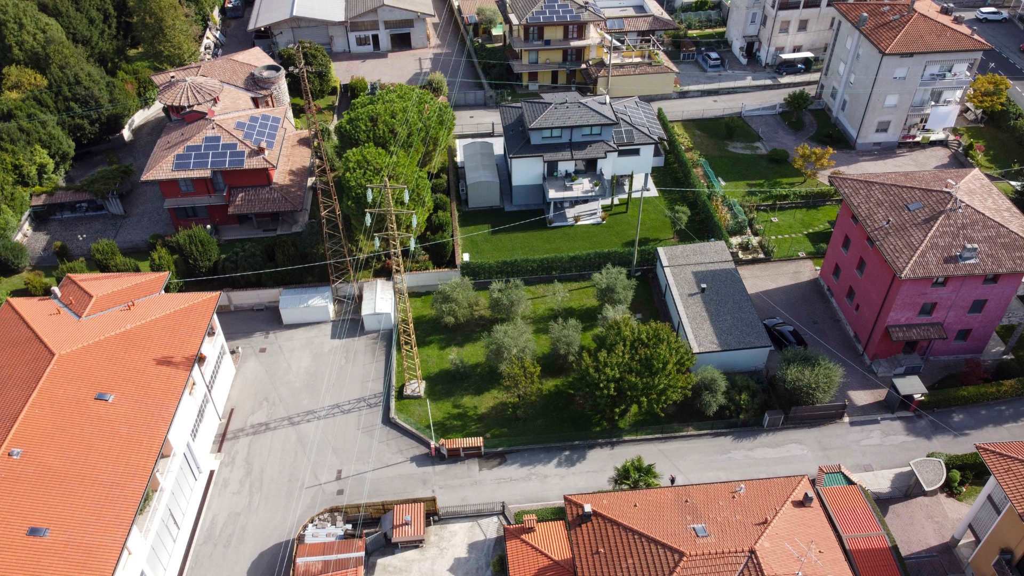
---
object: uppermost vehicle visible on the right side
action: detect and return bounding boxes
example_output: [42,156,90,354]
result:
[979,9,1007,22]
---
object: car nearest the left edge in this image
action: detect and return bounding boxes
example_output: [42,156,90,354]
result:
[704,54,719,67]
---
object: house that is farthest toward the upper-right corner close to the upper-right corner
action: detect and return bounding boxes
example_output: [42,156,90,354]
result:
[817,0,995,148]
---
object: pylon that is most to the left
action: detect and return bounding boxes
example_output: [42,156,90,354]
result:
[288,44,357,319]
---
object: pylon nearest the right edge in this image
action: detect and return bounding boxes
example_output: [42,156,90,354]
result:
[366,172,426,400]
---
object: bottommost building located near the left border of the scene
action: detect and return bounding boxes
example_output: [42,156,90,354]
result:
[0,270,232,576]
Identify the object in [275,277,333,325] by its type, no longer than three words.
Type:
shed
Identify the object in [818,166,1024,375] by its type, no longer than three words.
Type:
house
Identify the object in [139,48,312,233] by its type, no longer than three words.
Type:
house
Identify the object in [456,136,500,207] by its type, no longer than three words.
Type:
building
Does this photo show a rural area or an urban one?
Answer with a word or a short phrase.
urban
